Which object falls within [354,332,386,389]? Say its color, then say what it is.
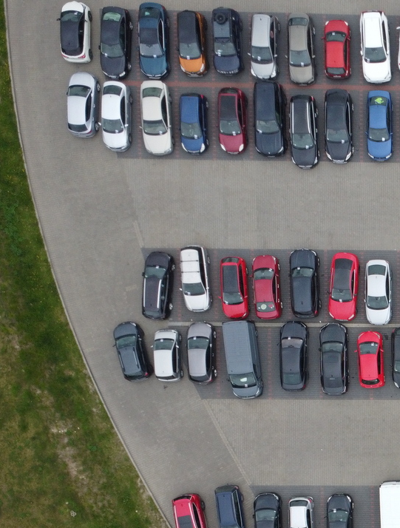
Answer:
red car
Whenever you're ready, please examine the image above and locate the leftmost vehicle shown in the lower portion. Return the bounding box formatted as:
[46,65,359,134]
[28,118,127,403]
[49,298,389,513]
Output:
[108,320,150,382]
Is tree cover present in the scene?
No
